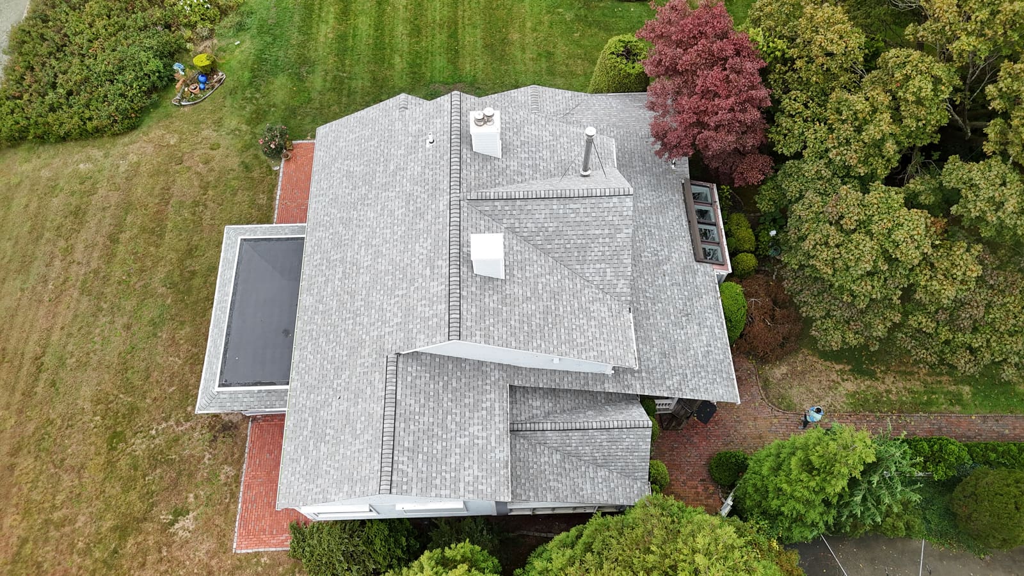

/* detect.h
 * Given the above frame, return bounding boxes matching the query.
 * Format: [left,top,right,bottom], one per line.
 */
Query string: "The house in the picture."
[192,85,741,522]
